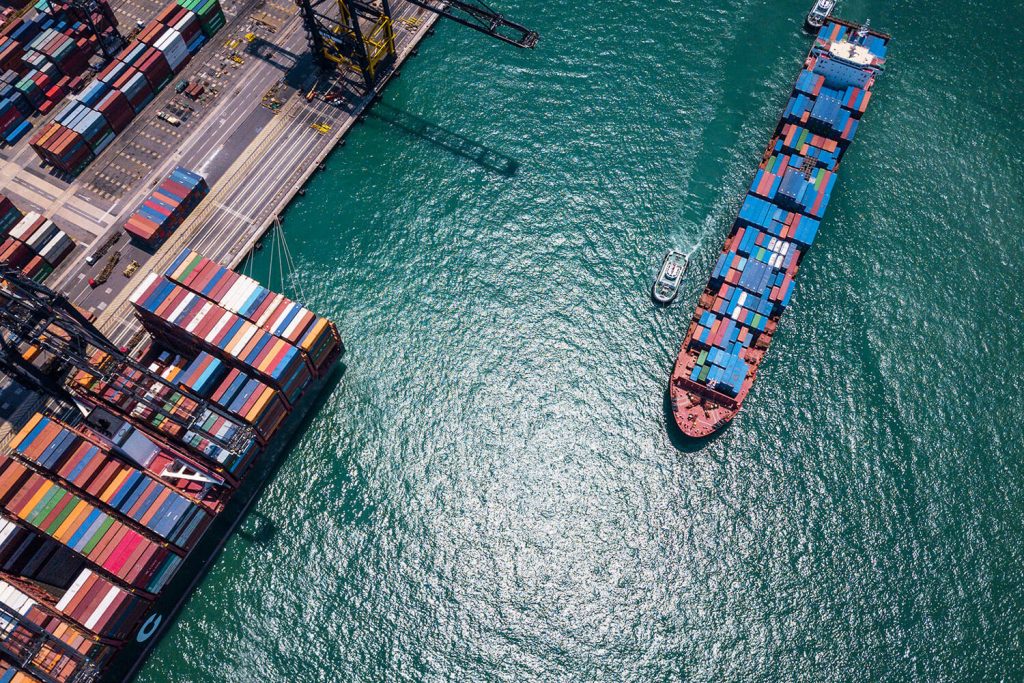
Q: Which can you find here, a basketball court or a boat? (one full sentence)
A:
This aerial view contains a boat.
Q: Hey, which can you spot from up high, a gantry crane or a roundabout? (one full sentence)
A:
This aerial view contains a gantry crane.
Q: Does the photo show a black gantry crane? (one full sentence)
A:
Yes, there is a black gantry crane in the image.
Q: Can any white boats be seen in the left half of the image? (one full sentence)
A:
No, I see no white boat in the left half of the image.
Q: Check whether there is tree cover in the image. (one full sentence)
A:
No, tree cover can't be seen anywhere here.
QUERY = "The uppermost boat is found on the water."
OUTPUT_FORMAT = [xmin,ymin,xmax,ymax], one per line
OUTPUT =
[808,0,838,29]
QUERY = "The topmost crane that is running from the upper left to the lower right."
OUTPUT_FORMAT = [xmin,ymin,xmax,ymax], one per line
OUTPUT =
[37,0,122,61]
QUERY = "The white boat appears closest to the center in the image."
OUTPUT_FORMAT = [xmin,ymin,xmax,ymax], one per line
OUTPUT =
[652,248,691,304]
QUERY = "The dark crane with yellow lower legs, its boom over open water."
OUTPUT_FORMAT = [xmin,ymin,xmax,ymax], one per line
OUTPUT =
[289,0,538,94]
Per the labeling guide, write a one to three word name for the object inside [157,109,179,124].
vehicle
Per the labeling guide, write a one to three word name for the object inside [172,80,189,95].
vehicle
